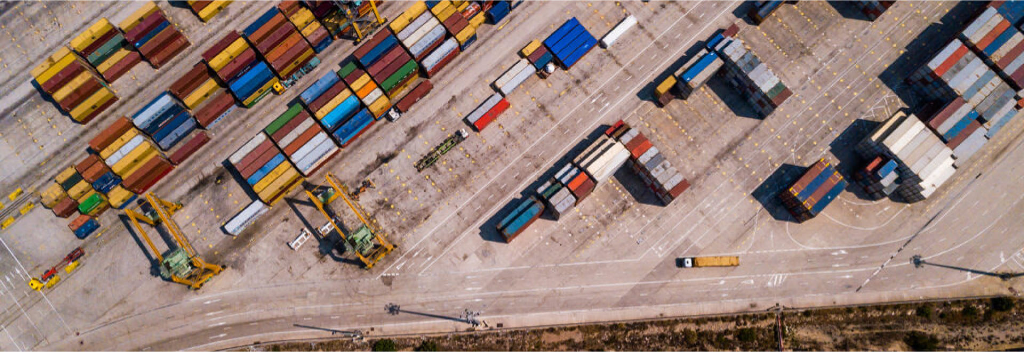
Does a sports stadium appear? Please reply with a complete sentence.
No, I can see no sports stadium in this picture.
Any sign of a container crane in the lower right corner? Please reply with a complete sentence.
No, in the lower right corner there is no container crane.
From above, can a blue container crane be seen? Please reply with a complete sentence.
No, there isn't any blue container crane down there.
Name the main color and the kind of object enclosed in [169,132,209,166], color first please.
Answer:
red shipping container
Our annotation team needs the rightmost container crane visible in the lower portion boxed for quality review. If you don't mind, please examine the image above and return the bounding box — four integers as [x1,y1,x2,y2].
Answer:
[305,171,401,273]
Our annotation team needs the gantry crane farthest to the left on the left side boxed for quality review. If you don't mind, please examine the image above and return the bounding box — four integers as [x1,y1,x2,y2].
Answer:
[123,190,230,293]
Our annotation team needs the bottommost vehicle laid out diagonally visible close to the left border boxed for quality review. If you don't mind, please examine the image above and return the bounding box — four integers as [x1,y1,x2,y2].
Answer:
[26,247,83,292]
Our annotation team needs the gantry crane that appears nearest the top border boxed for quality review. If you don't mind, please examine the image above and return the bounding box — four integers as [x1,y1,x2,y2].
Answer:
[332,0,389,46]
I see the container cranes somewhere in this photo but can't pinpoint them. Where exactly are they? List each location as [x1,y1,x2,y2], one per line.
[123,190,230,293]
[332,0,389,46]
[305,171,401,273]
